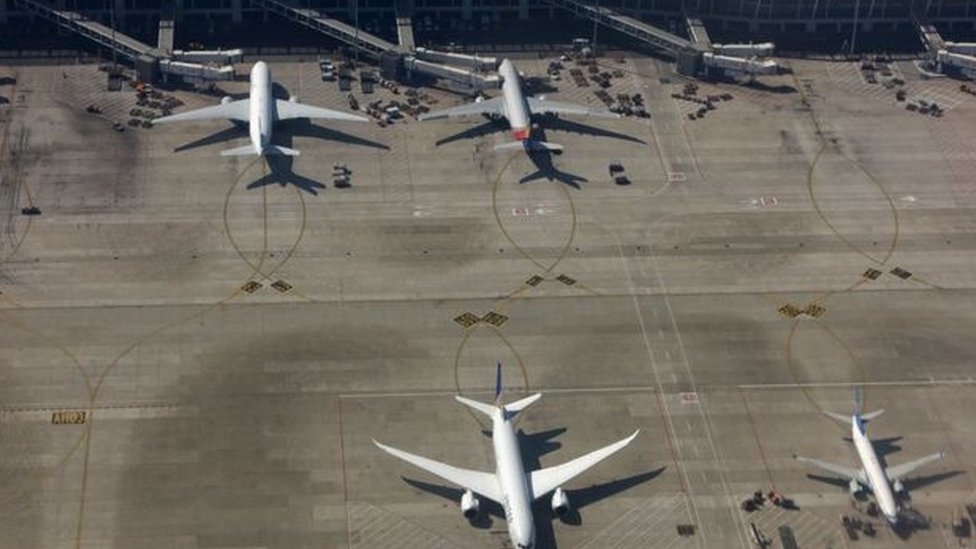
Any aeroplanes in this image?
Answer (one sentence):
Yes, there's an aeroplane here.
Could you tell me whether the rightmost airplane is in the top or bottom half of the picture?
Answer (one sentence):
It is in the bottom half that the rightmost airplane appears.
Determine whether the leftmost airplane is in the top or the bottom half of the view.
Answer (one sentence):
You can find the leftmost airplane in the top half.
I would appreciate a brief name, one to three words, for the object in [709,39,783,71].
jet bridge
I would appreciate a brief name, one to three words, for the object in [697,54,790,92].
jet bridge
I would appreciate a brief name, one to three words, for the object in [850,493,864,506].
vehicle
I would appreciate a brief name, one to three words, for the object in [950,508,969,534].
vehicle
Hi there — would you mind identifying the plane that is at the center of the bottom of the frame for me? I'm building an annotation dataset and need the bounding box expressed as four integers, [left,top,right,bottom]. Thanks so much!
[375,357,640,549]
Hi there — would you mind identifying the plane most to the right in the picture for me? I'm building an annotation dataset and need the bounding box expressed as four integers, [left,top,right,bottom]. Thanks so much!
[789,386,945,524]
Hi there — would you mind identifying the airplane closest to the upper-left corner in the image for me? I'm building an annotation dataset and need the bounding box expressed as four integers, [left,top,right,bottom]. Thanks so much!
[152,60,369,157]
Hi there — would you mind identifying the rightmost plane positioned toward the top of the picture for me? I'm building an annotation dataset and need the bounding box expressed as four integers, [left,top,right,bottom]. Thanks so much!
[415,60,622,152]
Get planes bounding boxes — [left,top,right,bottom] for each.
[375,357,640,549]
[789,386,945,524]
[152,60,369,157]
[415,60,622,152]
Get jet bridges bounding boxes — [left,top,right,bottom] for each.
[697,54,790,92]
[155,61,243,97]
[709,39,783,71]
[933,49,976,77]
[411,46,504,75]
[402,57,509,100]
[170,44,250,68]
